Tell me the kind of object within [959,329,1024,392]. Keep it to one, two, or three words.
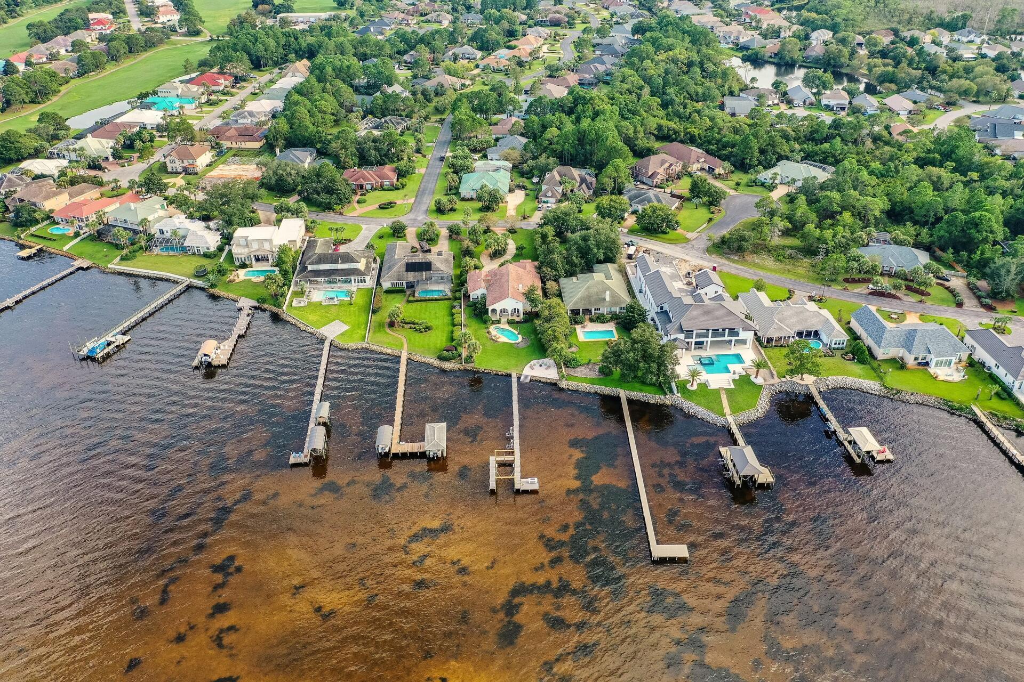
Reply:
house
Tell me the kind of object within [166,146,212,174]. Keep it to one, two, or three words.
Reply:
house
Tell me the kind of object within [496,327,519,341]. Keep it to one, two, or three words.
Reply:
swimming pool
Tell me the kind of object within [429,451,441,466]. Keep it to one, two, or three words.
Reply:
boat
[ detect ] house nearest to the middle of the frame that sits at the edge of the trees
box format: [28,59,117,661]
[460,259,542,320]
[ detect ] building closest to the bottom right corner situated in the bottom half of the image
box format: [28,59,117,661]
[843,426,881,472]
